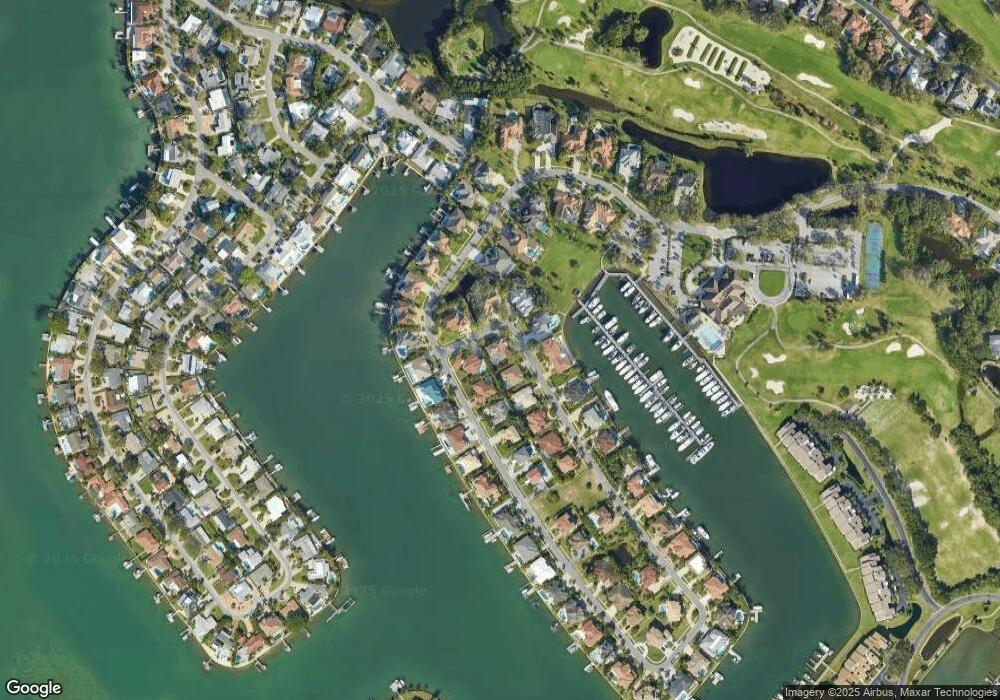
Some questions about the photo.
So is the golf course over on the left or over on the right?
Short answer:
right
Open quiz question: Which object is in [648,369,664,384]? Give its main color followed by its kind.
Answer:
white boat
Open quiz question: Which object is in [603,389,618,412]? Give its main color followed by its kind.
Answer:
white boat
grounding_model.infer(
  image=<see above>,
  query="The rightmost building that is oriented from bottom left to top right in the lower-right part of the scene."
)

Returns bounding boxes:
[823,630,892,700]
